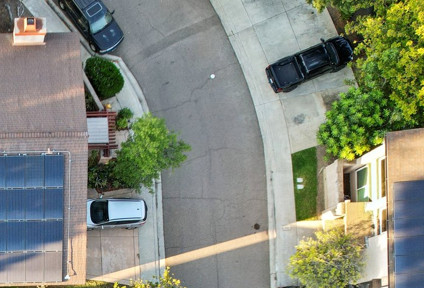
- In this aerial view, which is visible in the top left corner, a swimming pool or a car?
car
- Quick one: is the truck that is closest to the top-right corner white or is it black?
black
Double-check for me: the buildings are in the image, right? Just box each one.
[0,16,88,288]
[324,126,424,288]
